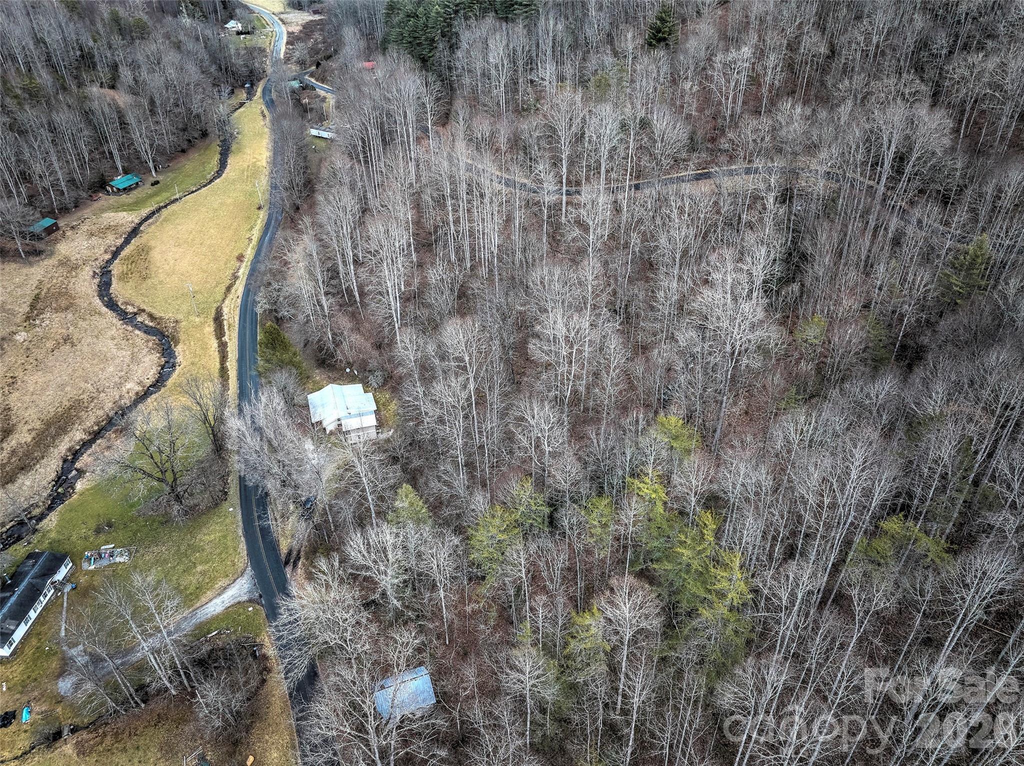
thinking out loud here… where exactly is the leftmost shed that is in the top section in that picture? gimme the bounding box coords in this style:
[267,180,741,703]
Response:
[29,219,60,240]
